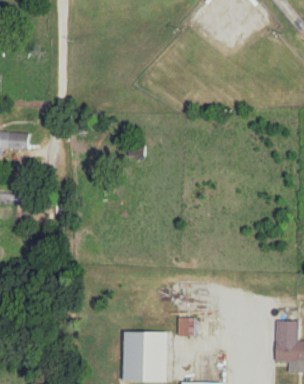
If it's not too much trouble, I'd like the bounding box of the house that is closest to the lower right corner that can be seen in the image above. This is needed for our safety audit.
[274,321,304,374]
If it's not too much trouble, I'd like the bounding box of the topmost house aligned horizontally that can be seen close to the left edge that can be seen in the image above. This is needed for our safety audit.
[0,132,44,150]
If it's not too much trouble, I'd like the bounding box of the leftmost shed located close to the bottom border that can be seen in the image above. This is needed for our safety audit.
[124,332,174,382]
